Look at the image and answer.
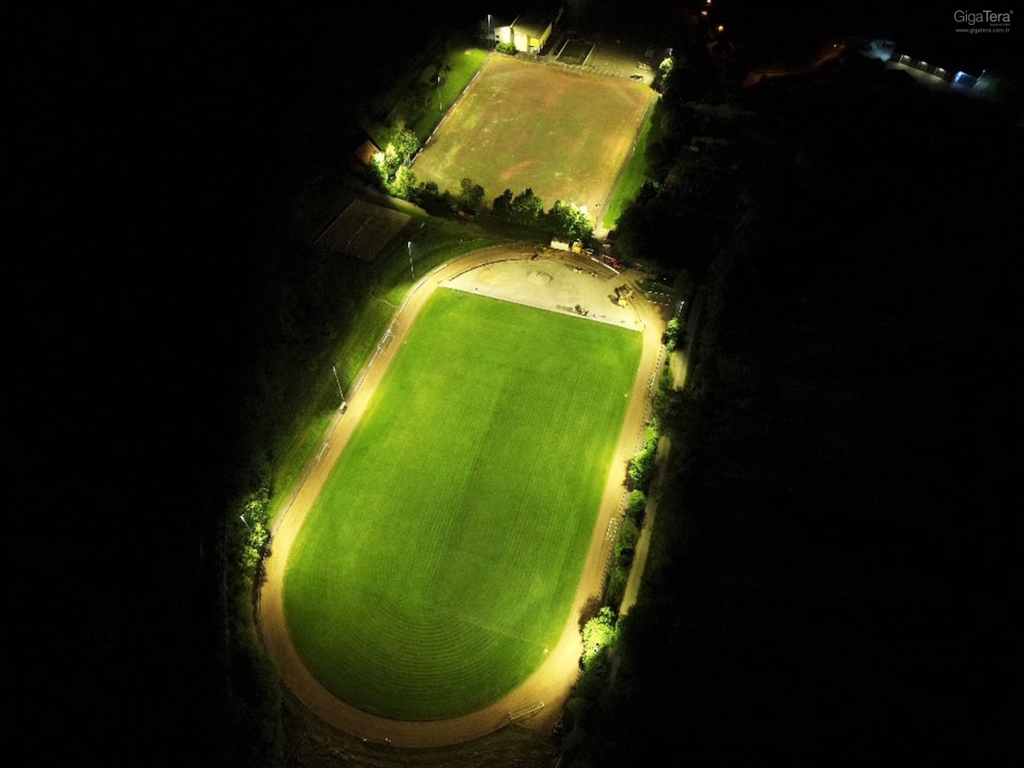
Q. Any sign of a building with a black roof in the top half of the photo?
Yes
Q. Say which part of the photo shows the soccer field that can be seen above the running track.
top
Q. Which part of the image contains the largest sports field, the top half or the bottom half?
bottom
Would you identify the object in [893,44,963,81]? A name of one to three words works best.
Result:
building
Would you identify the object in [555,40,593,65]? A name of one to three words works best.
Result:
sports court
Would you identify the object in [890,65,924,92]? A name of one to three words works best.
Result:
house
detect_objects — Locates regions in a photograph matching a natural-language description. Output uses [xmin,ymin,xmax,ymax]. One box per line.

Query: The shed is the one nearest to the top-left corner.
[345,141,377,165]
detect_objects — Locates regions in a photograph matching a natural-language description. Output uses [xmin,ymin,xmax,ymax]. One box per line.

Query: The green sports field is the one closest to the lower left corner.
[284,287,641,721]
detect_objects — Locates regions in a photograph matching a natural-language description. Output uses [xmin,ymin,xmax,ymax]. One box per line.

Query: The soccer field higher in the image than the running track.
[407,52,657,225]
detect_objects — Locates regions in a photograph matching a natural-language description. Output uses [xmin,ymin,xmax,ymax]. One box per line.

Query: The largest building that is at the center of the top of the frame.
[495,9,552,52]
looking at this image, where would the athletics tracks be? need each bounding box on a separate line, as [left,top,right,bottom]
[259,249,661,751]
